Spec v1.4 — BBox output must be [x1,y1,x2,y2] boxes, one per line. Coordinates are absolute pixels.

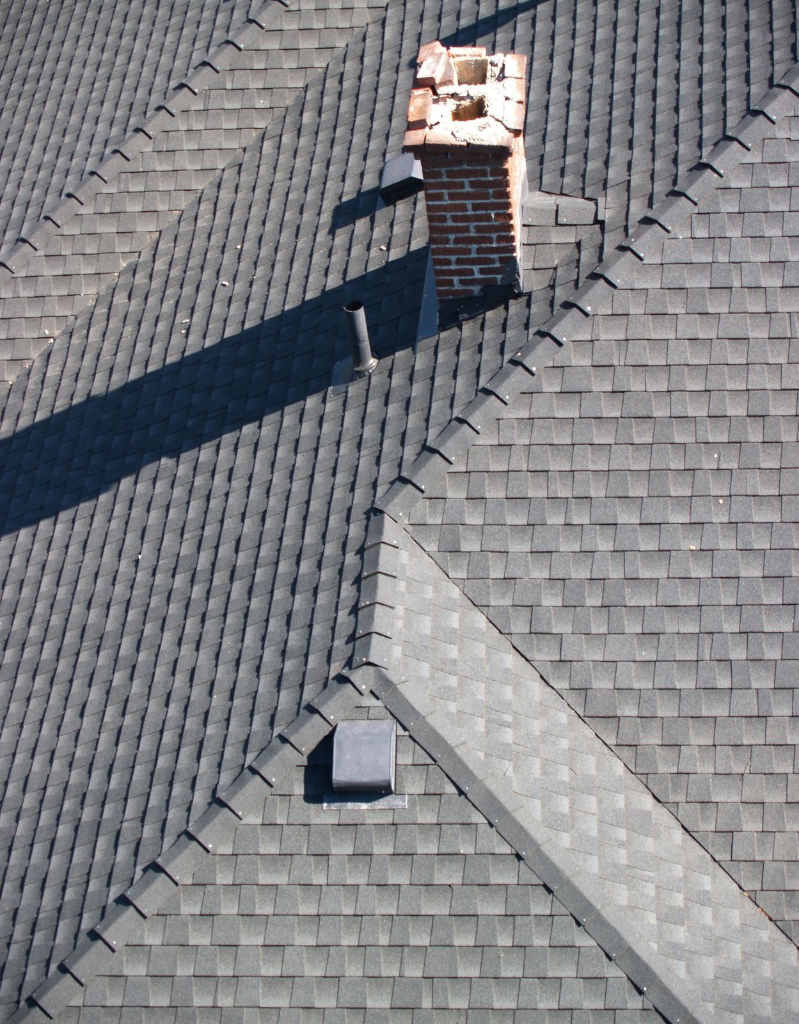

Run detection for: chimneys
[404,46,530,349]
